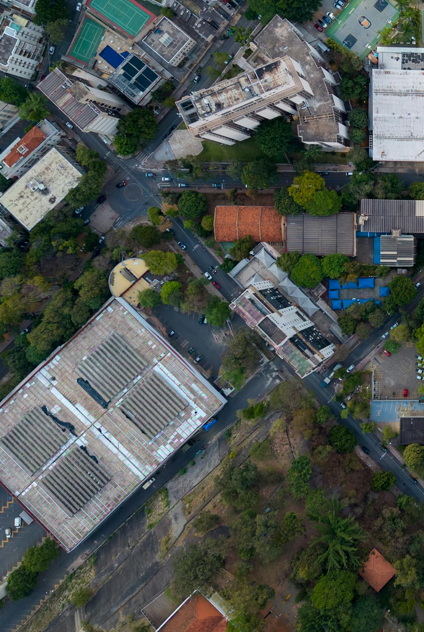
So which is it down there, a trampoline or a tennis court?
tennis court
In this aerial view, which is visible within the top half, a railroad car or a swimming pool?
swimming pool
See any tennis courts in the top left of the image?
Yes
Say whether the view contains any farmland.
No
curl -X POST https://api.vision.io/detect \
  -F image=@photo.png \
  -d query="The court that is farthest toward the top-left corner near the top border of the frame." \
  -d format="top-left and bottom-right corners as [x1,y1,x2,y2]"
[69,18,104,65]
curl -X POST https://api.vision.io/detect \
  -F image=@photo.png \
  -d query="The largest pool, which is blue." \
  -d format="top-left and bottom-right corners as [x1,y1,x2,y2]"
[97,44,125,70]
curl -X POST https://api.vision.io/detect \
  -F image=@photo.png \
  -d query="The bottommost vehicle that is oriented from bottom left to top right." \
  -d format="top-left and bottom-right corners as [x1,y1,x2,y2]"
[141,474,158,492]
